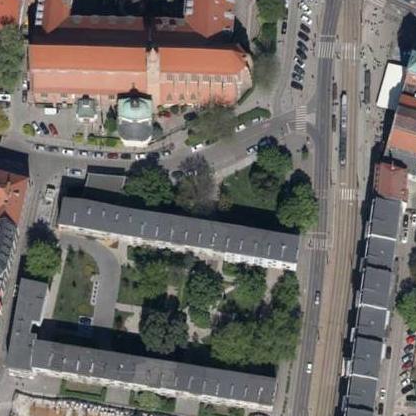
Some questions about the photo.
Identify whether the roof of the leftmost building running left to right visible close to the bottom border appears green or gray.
gray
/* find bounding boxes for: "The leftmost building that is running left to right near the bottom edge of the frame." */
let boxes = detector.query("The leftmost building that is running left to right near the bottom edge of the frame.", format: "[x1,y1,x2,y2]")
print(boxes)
[31,338,277,413]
